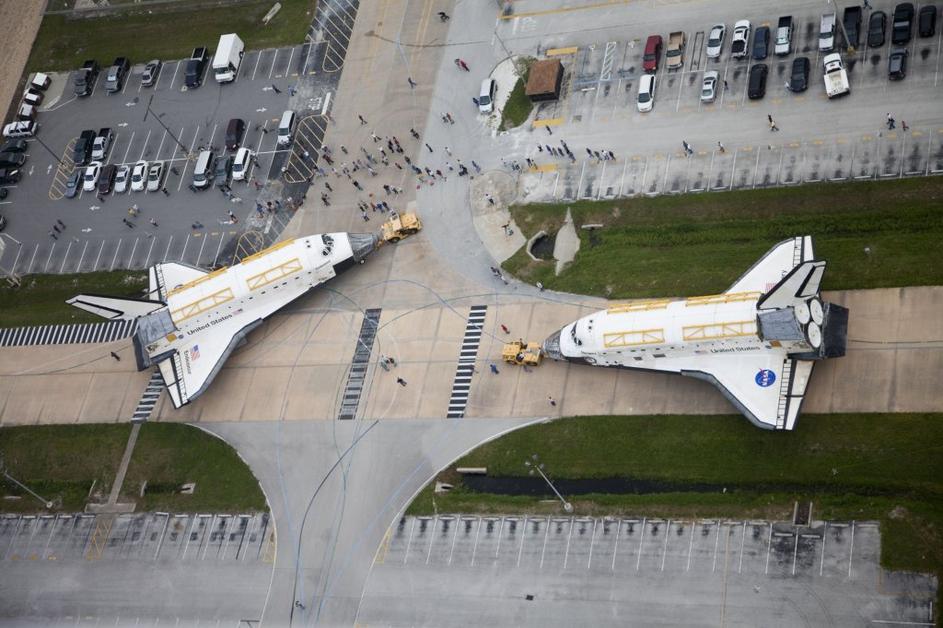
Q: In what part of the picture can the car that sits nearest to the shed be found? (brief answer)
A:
top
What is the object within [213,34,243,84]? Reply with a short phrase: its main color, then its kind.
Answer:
white truck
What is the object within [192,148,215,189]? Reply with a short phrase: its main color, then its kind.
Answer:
white vehicle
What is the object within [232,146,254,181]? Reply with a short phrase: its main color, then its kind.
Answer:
white car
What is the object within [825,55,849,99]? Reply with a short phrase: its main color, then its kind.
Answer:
white truck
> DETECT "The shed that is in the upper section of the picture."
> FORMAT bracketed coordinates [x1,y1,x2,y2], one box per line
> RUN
[524,57,566,108]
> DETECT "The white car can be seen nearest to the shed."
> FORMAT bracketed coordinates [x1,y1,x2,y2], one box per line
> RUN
[475,79,499,115]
